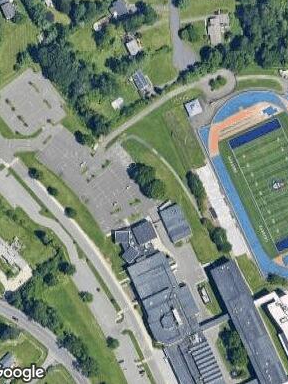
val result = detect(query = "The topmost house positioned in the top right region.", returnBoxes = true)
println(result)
[201,14,225,44]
